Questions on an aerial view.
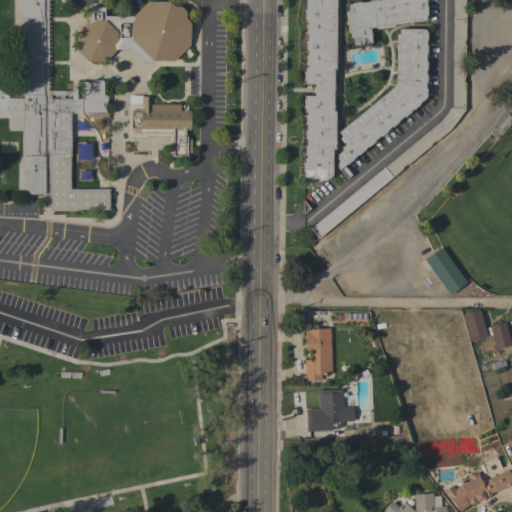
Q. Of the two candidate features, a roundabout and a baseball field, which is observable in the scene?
baseball field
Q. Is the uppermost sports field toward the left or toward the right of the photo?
right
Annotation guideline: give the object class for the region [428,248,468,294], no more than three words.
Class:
barn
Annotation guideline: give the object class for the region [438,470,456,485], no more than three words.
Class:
swimming pool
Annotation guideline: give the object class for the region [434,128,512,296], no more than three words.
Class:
sports field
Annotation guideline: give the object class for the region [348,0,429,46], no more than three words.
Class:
building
